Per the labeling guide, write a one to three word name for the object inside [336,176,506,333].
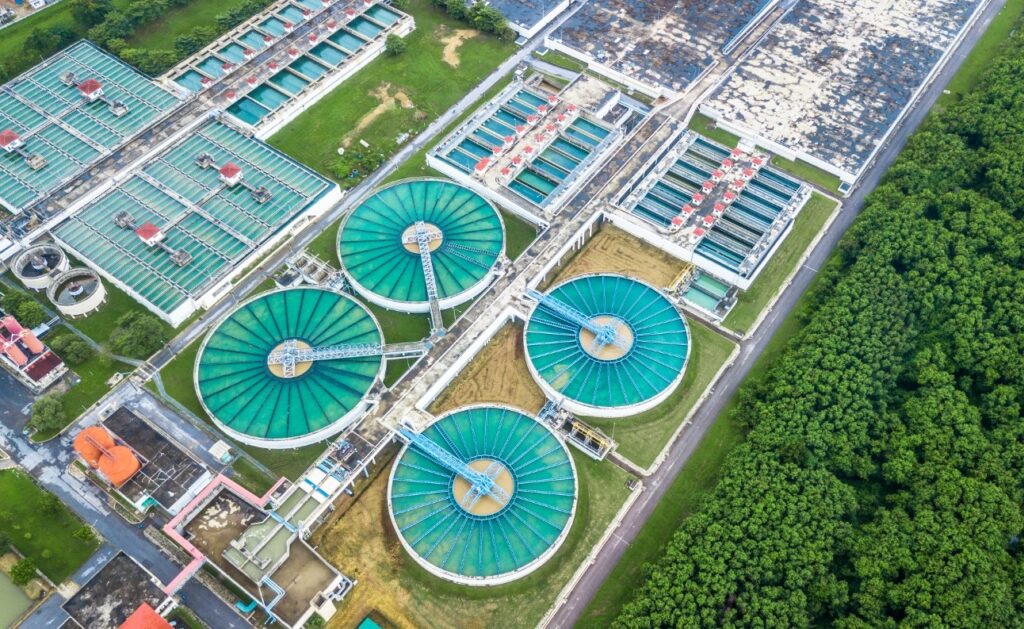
storage tank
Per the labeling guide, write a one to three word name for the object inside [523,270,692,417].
storage tank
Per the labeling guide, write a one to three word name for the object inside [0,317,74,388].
house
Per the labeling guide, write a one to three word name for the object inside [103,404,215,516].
building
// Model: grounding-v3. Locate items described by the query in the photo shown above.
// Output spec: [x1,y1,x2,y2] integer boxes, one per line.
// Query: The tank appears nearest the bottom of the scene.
[387,403,578,584]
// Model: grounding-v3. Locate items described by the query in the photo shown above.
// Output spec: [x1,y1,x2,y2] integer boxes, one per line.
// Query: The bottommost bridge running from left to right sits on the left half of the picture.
[267,338,386,376]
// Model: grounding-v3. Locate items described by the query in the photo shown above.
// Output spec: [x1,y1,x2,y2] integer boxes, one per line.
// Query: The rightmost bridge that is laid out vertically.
[403,220,441,302]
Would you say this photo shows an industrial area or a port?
industrial area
